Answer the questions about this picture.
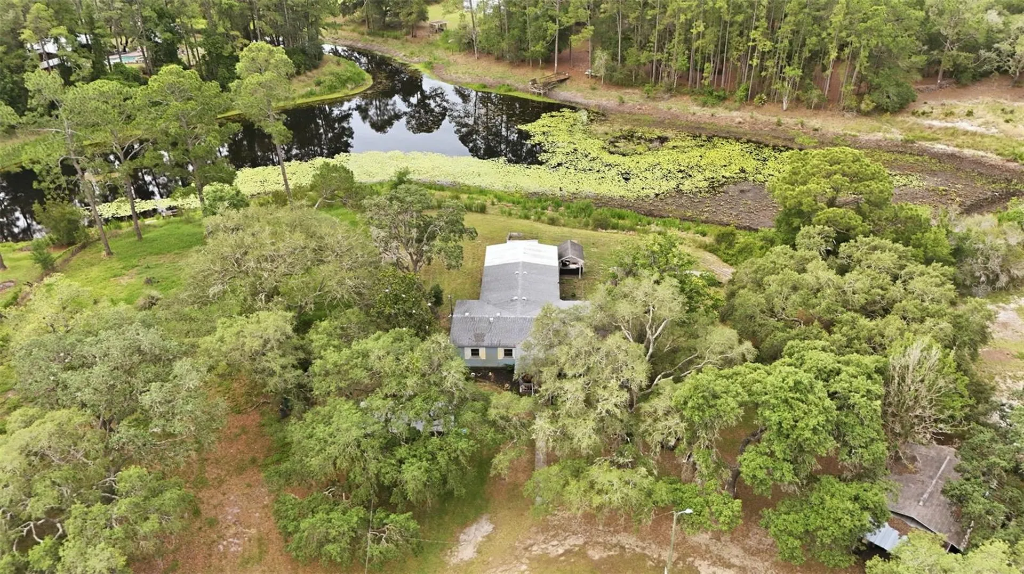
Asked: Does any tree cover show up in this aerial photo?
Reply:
Yes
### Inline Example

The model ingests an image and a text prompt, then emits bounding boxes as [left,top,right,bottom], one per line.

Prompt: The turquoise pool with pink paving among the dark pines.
[105,49,150,67]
